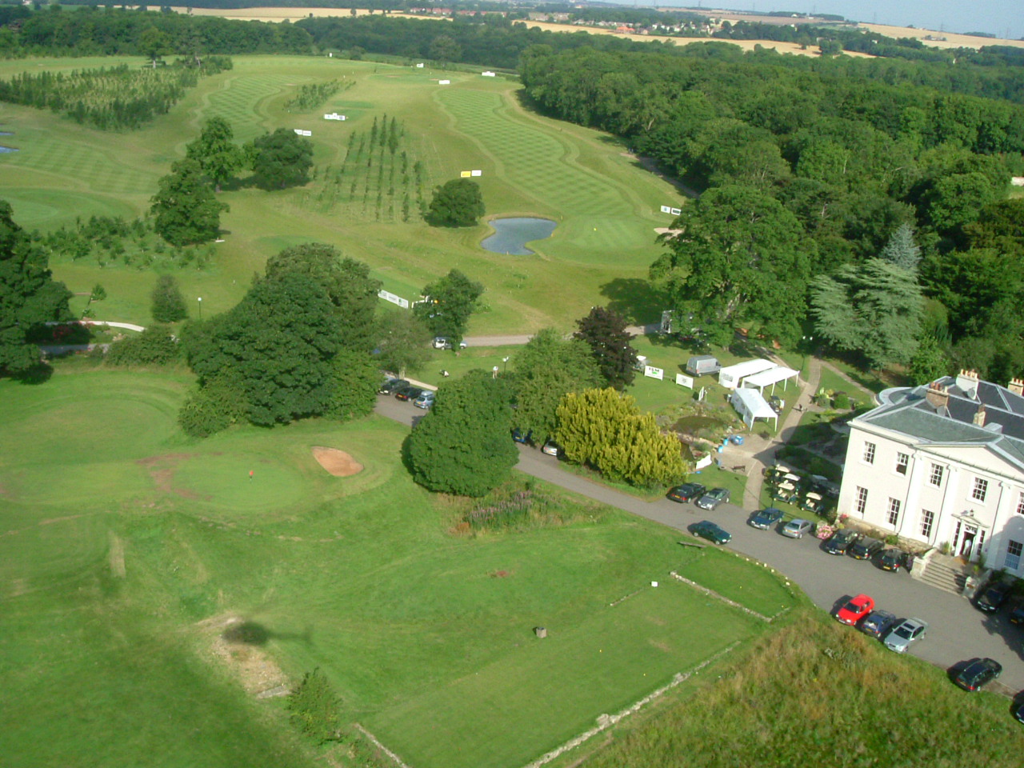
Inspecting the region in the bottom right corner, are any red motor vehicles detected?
Yes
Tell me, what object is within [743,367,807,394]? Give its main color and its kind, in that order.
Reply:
white tent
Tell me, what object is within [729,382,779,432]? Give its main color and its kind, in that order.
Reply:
white tent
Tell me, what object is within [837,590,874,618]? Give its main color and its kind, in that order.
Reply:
red car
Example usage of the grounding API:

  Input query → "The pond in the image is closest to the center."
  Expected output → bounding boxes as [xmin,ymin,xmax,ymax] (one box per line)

[481,216,555,255]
